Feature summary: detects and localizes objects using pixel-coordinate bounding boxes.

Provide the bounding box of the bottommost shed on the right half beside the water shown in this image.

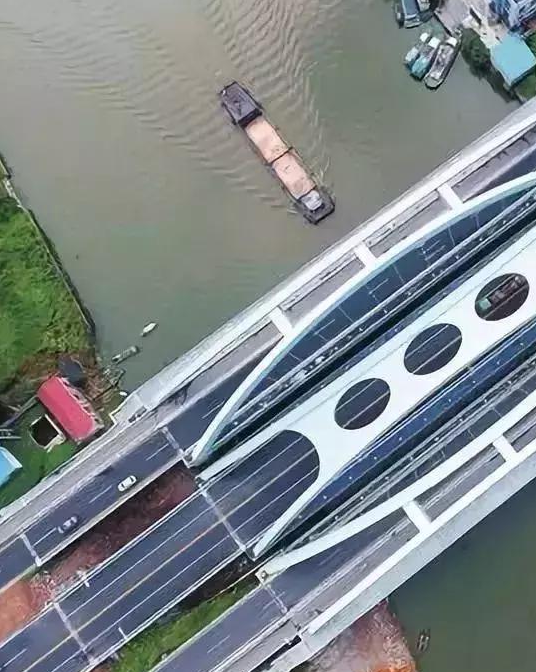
[491,32,536,93]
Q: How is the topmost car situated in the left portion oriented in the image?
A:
on a diagonal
